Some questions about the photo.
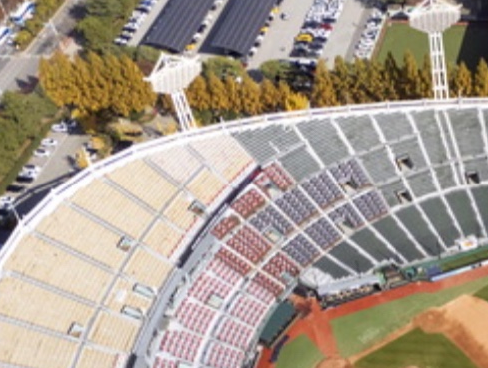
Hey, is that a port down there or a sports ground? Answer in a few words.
sports ground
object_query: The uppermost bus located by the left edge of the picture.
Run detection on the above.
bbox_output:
[8,0,38,24]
